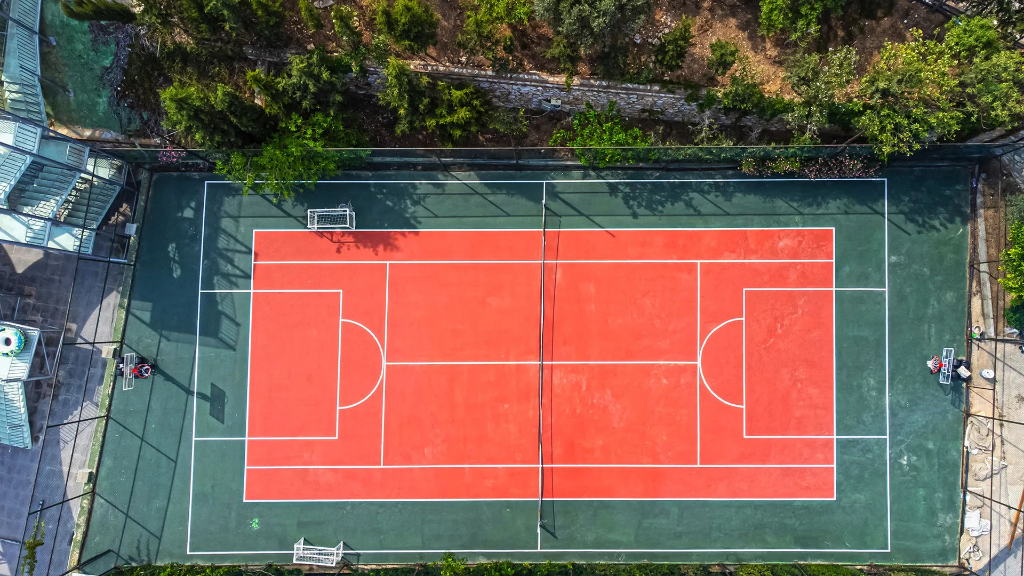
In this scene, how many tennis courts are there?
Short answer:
one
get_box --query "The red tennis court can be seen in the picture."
[67,166,975,567]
